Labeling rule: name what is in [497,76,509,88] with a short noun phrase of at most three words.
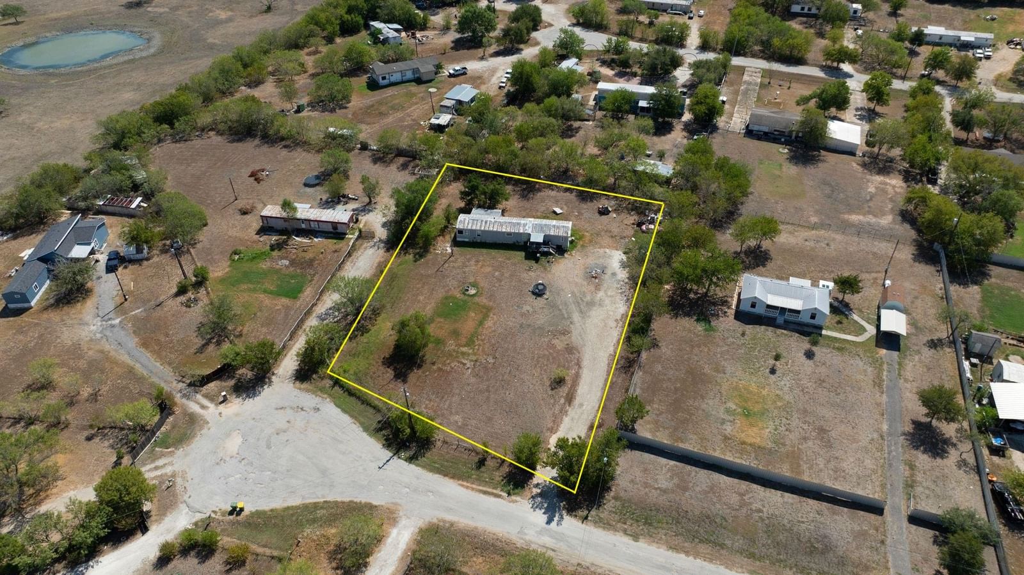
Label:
vehicle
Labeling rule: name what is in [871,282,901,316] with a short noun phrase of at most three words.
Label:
building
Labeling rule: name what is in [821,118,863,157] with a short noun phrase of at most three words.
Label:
barn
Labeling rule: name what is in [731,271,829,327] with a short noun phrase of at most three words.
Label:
house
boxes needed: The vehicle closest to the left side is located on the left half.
[102,246,120,269]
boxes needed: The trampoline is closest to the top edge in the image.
[302,174,322,189]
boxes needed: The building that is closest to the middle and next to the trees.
[456,206,576,256]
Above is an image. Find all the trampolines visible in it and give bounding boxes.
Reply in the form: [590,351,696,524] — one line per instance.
[302,174,322,189]
[532,282,547,296]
